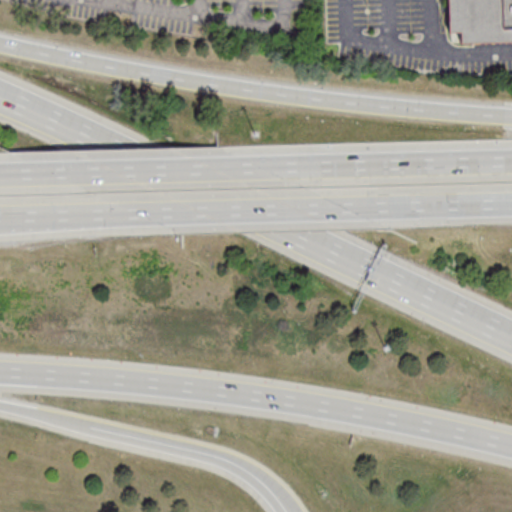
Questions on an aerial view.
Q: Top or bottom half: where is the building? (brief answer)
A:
top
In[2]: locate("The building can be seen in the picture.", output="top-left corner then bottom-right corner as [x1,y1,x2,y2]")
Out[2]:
[449,0,512,45]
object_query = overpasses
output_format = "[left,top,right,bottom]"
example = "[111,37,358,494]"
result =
[8,131,392,250]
